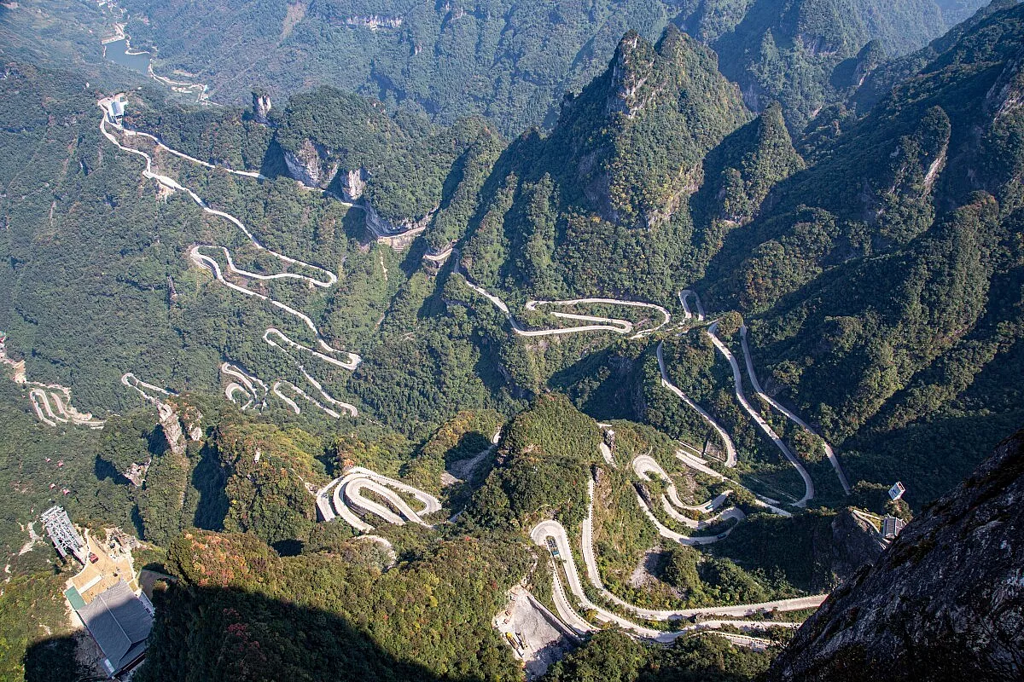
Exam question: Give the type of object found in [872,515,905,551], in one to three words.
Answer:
building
